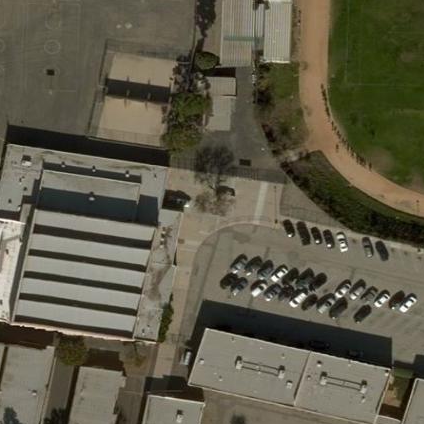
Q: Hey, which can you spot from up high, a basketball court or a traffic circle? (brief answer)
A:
basketball court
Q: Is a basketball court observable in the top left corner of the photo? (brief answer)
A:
Yes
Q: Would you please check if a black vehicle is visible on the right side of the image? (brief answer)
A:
Yes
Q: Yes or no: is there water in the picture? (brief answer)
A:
No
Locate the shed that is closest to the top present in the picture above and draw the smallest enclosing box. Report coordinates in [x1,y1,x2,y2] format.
[207,77,236,97]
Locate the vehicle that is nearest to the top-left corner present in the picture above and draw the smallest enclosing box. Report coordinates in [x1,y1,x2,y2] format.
[169,195,190,208]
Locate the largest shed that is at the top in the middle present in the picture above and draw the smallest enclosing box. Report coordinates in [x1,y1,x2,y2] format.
[205,97,234,132]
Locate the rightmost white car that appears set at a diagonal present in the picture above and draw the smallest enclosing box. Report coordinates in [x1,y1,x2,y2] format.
[399,294,417,312]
